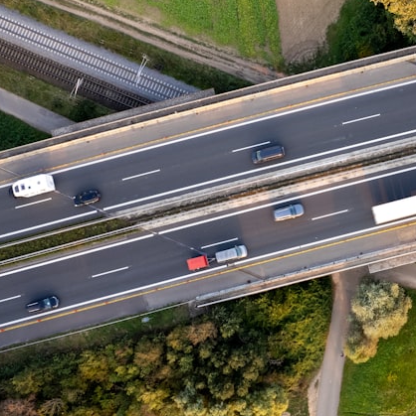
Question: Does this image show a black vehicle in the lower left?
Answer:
Yes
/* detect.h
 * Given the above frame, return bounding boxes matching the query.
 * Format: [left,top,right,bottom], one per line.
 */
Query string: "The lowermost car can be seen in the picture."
[26,296,60,314]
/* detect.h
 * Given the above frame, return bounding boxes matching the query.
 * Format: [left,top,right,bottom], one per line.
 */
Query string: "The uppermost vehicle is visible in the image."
[253,145,286,163]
